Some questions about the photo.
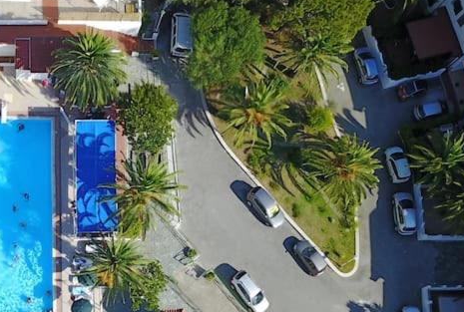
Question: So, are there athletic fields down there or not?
No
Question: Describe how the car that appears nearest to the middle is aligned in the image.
on a diagonal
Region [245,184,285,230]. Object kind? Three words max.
car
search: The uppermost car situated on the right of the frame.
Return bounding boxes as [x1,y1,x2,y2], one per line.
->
[353,47,380,87]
